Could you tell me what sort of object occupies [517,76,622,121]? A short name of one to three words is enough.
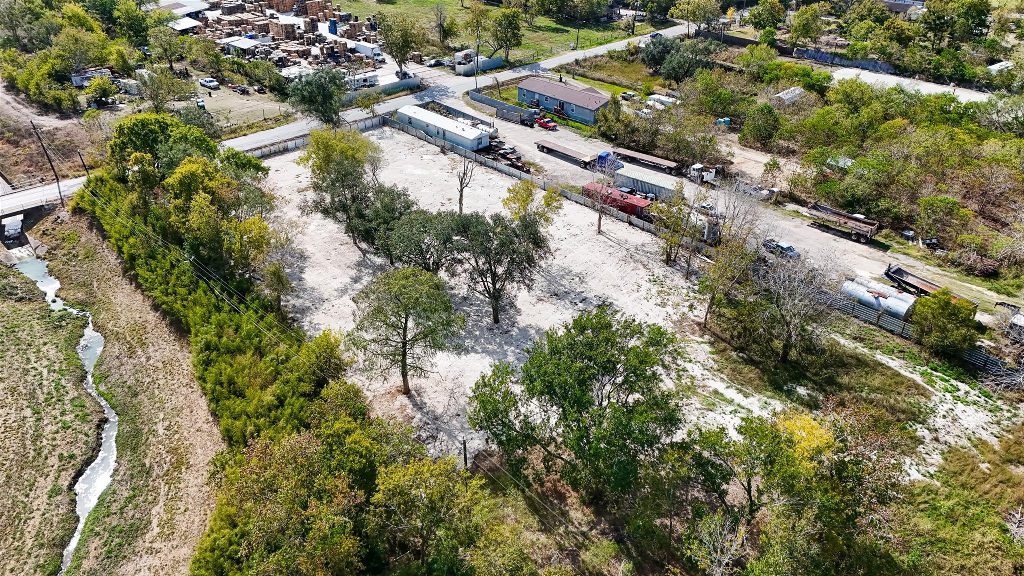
house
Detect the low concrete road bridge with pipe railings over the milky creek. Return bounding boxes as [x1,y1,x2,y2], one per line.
[0,179,65,238]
